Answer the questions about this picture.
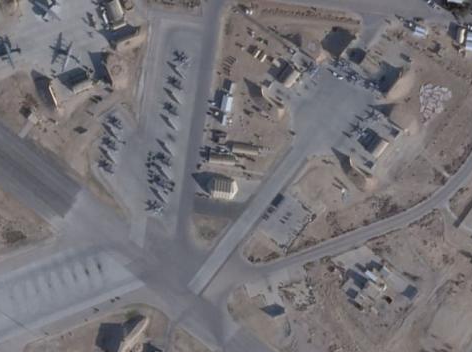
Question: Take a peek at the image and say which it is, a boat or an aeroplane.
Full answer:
It is an aeroplane that can be seen here.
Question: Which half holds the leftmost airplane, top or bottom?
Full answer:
Seen from above, the leftmost airplane lies in the top half of the view.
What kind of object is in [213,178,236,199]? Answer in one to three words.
hangar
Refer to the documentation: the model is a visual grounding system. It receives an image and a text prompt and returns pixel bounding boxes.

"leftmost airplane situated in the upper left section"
[0,40,21,70]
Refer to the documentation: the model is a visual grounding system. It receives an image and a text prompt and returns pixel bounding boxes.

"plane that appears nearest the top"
[34,0,60,24]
